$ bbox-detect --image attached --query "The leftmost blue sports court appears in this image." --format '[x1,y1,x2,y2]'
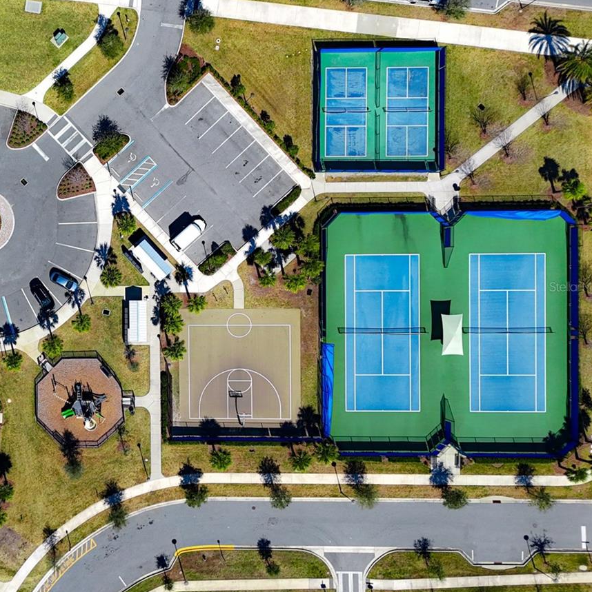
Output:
[316,51,376,168]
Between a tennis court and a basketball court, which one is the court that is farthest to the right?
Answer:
tennis court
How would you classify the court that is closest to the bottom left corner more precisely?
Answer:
basketball court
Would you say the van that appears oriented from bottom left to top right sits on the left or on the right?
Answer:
left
